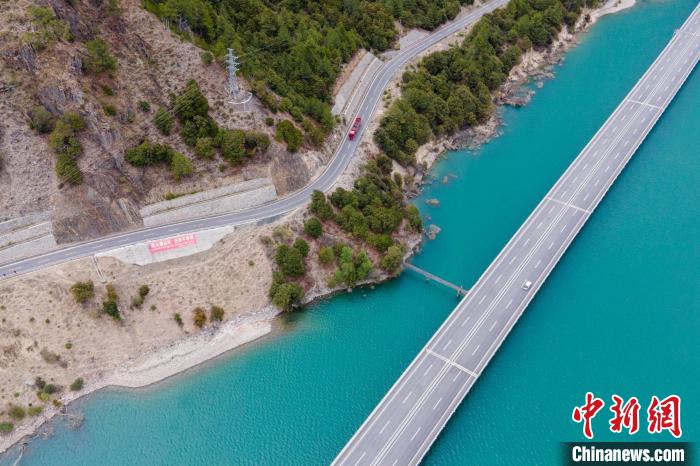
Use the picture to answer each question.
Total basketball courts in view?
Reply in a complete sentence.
Not a single basketball court can be seen.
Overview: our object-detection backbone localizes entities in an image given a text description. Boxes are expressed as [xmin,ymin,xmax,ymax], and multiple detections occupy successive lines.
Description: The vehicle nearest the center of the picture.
[345,121,360,141]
